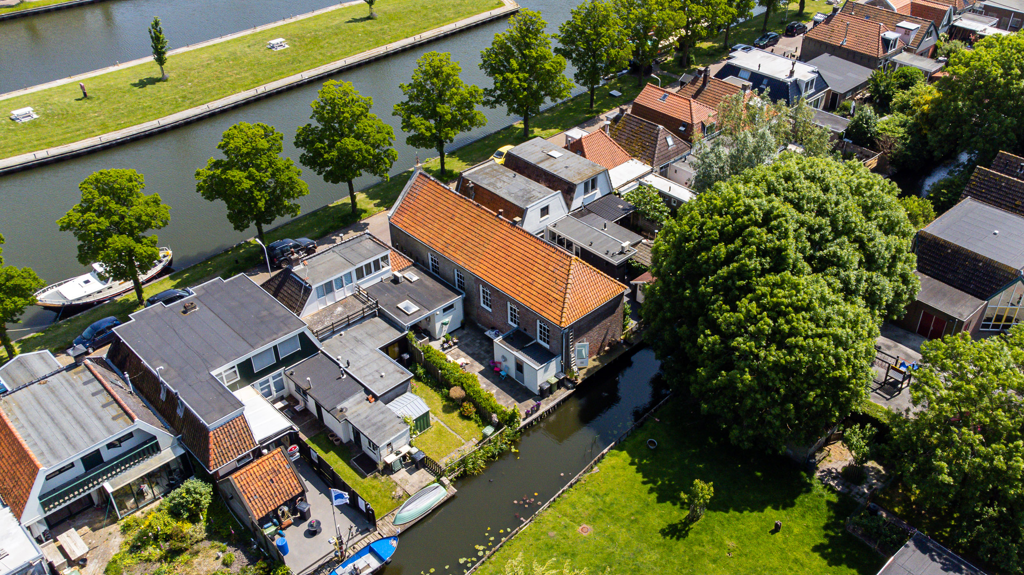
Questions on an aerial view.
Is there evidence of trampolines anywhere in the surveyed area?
No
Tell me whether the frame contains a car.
Yes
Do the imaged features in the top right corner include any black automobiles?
Yes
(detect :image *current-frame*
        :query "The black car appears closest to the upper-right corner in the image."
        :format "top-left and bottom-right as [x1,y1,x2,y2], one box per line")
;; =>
[784,19,807,35]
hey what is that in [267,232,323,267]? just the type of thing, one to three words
car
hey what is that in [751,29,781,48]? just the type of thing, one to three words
car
